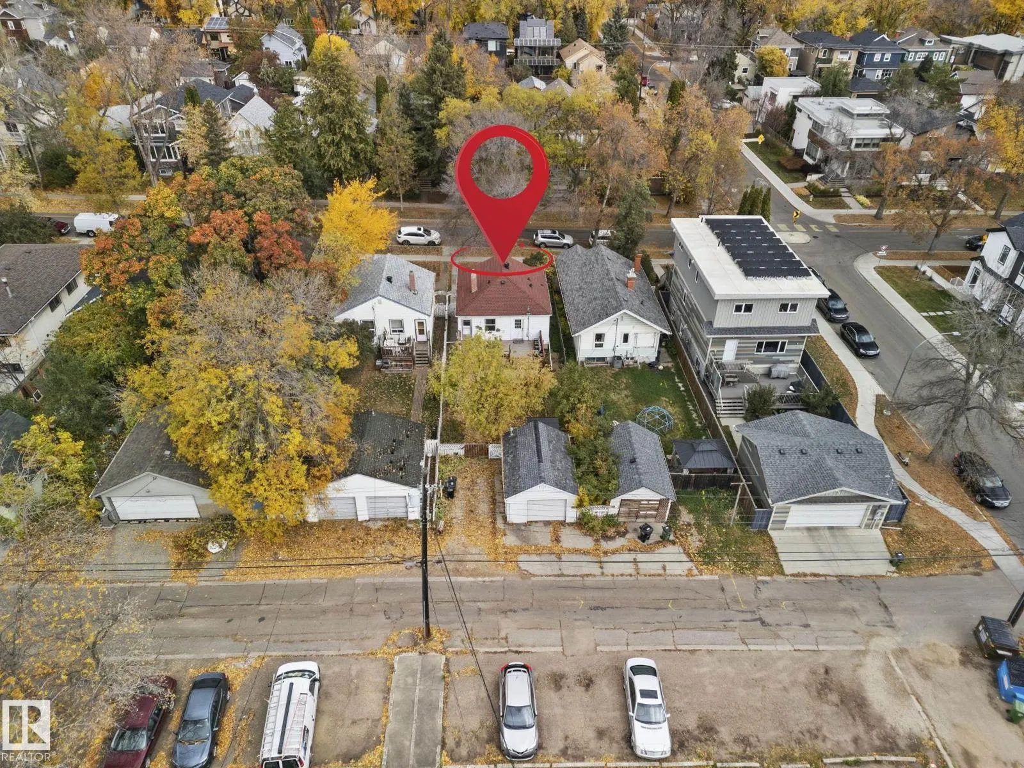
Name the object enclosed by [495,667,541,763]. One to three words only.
car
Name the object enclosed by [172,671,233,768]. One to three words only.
car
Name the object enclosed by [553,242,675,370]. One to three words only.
house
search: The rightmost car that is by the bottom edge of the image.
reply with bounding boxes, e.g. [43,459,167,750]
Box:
[622,663,673,766]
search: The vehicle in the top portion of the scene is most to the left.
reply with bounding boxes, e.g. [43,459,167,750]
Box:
[24,217,72,235]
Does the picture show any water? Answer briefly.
No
